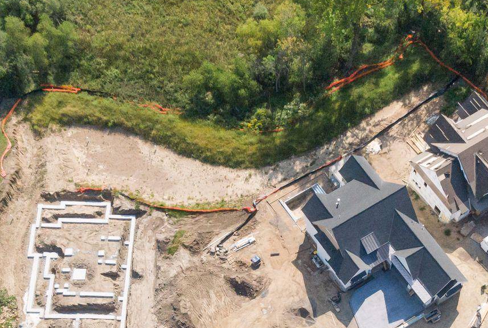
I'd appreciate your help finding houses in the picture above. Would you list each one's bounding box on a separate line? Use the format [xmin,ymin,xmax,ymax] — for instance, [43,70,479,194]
[407,90,488,225]
[283,155,468,304]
